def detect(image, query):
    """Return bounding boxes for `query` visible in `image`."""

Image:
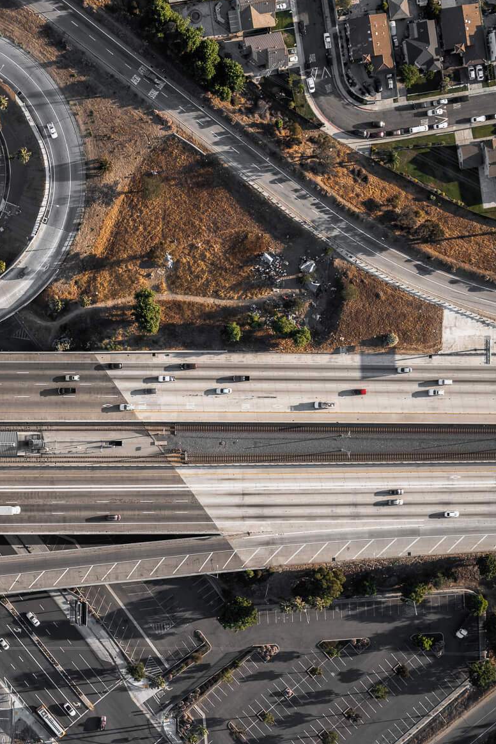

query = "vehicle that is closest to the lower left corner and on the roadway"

[35,701,65,738]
